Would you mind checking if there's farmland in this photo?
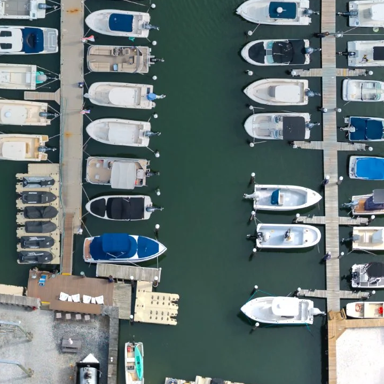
No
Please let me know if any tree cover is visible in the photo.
No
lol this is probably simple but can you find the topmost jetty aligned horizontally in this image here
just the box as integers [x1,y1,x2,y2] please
[24,91,59,104]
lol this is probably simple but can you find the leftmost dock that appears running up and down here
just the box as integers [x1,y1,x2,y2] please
[17,163,60,264]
